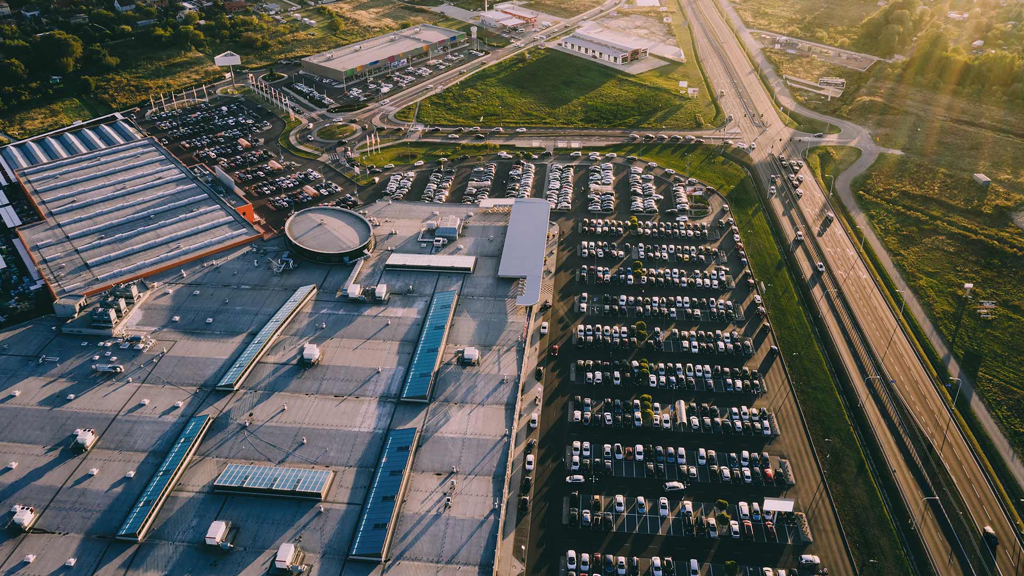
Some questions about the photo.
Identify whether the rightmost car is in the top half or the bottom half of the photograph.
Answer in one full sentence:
You can find the rightmost car in the bottom half.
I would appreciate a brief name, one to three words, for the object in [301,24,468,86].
building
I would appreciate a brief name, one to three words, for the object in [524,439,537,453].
vehicle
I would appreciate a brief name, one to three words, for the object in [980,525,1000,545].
car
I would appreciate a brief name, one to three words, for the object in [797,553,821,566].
vehicle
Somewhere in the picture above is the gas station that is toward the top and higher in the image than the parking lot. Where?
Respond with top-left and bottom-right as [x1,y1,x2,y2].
[480,2,538,31]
